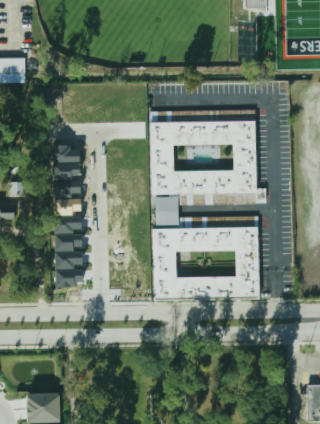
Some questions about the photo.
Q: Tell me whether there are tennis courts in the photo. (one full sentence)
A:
No, there's no tennis court here.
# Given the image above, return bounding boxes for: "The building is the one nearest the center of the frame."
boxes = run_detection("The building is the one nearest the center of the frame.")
[156,196,180,226]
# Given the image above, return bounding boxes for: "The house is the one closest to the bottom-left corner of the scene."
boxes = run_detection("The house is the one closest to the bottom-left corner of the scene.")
[26,394,59,424]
